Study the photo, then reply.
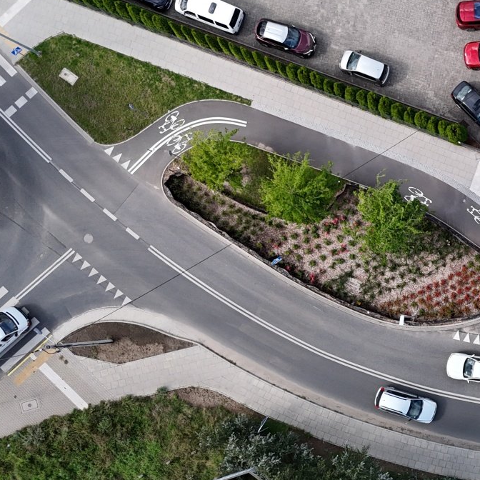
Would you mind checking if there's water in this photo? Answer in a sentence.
No, the scene doesn't show any water.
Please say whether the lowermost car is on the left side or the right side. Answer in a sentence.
The lowermost car sits on the right side.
